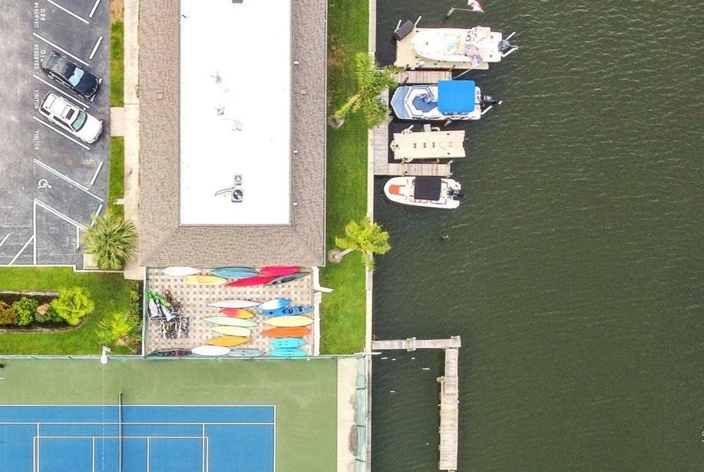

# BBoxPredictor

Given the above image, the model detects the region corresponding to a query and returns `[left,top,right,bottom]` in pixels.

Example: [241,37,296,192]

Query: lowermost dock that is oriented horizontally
[389,162,452,181]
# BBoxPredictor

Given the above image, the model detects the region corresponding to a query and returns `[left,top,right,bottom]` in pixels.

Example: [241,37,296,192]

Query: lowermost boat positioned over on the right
[383,175,469,208]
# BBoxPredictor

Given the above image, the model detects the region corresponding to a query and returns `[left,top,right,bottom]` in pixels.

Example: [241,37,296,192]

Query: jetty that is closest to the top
[391,16,517,72]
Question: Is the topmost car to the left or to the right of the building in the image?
left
